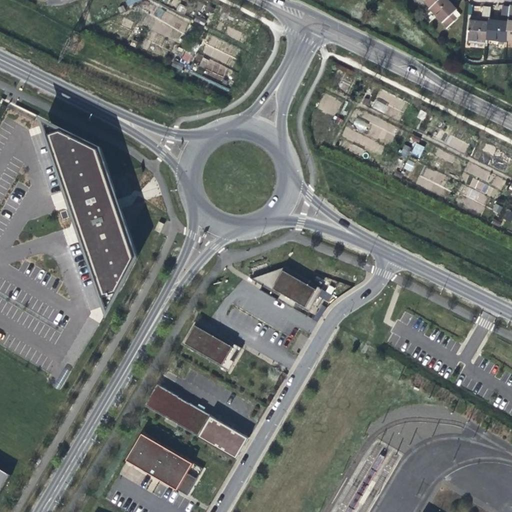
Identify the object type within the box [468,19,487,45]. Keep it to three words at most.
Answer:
house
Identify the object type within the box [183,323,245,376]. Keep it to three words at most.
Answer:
building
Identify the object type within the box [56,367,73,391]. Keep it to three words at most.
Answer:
vehicle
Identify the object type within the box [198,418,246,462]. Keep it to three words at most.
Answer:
building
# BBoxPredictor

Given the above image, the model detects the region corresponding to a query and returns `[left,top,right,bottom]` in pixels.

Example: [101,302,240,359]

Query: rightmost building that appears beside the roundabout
[252,268,332,322]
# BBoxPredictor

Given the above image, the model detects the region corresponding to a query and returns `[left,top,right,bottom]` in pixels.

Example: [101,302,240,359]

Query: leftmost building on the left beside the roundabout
[36,115,134,322]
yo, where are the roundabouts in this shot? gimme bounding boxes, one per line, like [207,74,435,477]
[125,78,349,288]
